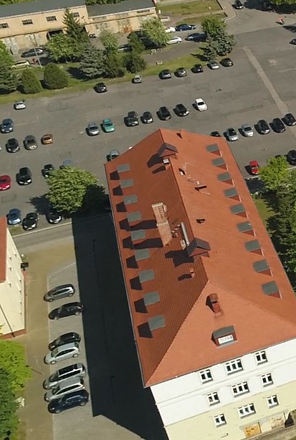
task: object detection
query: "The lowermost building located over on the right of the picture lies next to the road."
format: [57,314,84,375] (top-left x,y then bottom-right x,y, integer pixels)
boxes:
[104,121,296,440]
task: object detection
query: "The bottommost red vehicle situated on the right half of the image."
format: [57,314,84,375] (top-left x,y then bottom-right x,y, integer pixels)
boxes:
[248,161,261,175]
